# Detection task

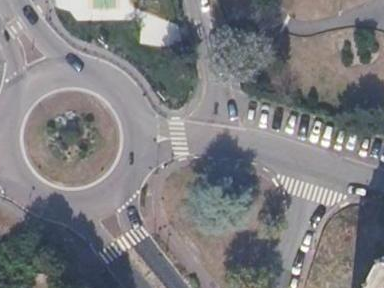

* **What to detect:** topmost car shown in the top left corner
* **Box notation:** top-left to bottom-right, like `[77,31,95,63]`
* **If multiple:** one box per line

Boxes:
[23,5,39,26]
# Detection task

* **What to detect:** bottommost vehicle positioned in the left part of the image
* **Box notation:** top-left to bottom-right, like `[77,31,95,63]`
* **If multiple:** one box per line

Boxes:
[128,206,141,227]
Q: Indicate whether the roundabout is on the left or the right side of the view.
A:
left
